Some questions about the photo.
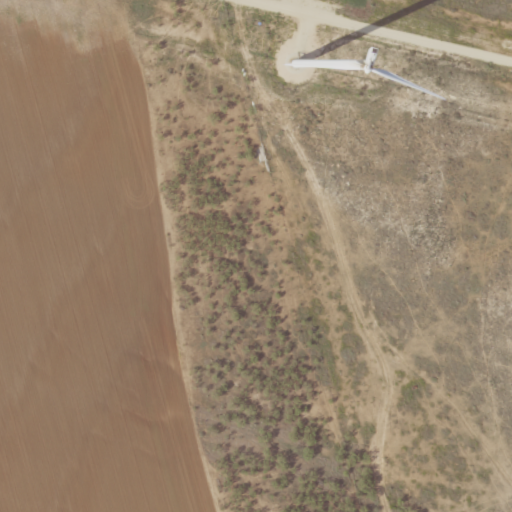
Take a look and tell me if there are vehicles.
No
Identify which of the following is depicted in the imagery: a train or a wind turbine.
wind turbine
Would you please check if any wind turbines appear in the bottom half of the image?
No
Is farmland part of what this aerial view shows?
Yes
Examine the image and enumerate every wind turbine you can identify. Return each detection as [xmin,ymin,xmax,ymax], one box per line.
[286,46,444,98]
